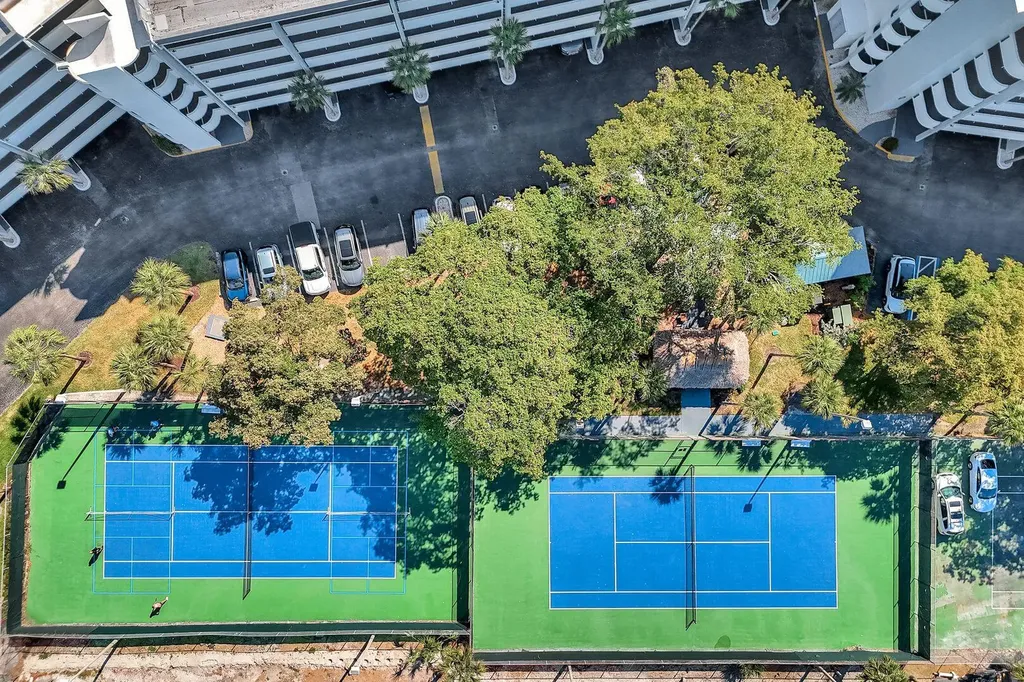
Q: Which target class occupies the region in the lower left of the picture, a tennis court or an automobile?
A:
tennis court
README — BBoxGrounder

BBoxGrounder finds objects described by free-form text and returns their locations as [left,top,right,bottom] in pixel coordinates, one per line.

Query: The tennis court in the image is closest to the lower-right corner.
[931,438,1024,655]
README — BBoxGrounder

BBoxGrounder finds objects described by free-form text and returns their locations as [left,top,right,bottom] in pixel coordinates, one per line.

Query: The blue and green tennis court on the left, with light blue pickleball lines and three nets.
[28,404,472,625]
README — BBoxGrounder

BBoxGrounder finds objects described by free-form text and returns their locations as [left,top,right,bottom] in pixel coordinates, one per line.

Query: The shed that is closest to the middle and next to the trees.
[650,321,753,394]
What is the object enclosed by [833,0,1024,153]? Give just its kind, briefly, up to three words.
building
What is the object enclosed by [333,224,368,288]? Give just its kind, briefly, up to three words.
car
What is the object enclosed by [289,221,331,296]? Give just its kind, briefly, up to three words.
truck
